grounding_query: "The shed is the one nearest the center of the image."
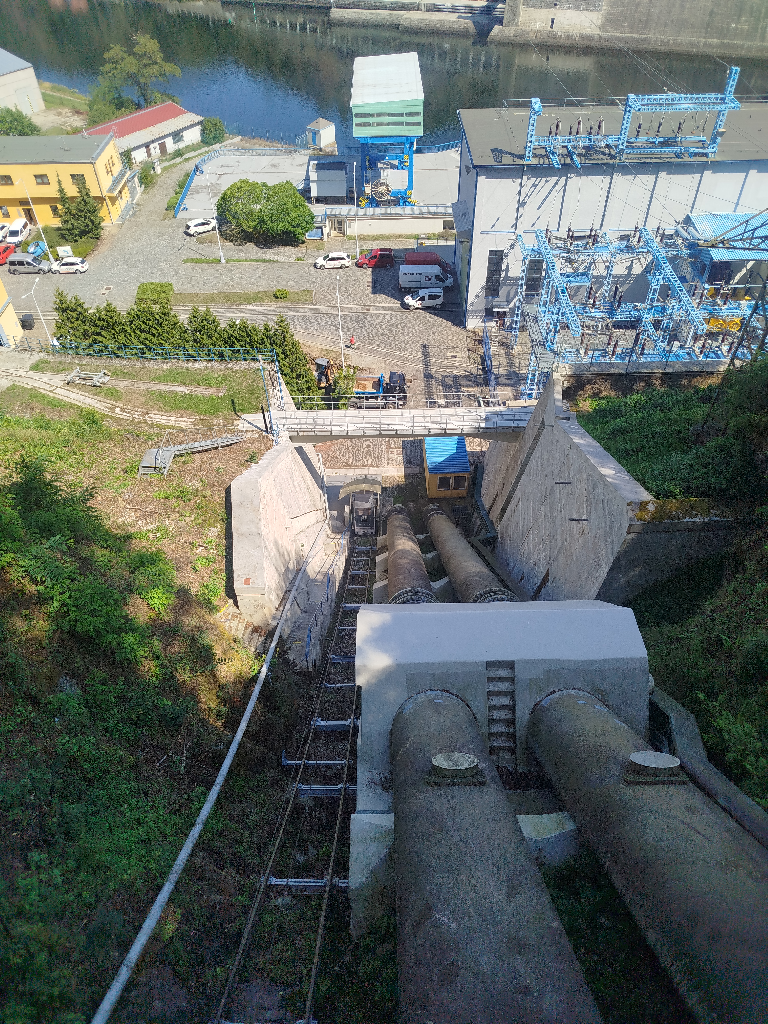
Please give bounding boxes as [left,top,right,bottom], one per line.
[422,436,470,497]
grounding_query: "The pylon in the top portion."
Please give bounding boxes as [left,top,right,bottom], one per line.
[691,212,768,446]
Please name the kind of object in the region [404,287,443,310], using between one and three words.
vehicle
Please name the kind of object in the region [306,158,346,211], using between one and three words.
building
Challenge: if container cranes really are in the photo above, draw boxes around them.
[349,53,425,212]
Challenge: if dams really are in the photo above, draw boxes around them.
[496,0,768,57]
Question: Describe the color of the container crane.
white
